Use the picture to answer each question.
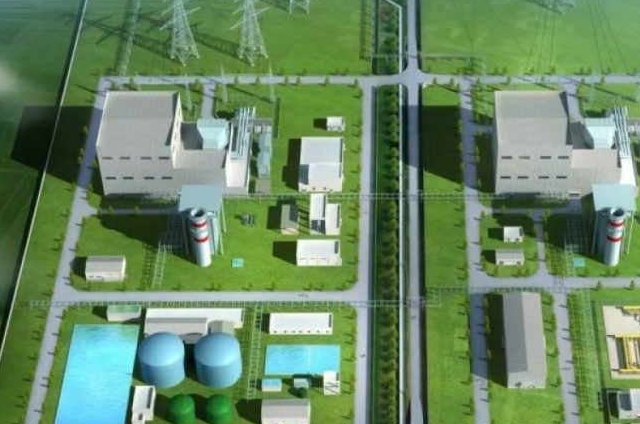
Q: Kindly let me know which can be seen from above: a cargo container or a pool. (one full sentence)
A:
Of the two, only a pool appears.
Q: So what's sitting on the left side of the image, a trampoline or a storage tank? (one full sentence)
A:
The feature located on the left side of the image is a storage tank.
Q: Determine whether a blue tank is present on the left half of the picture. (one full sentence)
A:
Yes, the scene does show a blue tank on the left half of the picture.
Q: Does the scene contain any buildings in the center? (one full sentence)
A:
Yes, in the center there is a building.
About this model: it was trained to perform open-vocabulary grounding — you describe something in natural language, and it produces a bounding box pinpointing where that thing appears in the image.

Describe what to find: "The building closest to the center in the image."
[308,196,342,236]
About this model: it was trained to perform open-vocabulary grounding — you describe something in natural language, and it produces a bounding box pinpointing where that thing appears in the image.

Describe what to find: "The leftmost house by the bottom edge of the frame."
[131,382,157,424]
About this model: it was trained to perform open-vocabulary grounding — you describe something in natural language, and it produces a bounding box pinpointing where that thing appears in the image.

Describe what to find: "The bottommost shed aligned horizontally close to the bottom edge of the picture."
[259,400,310,424]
